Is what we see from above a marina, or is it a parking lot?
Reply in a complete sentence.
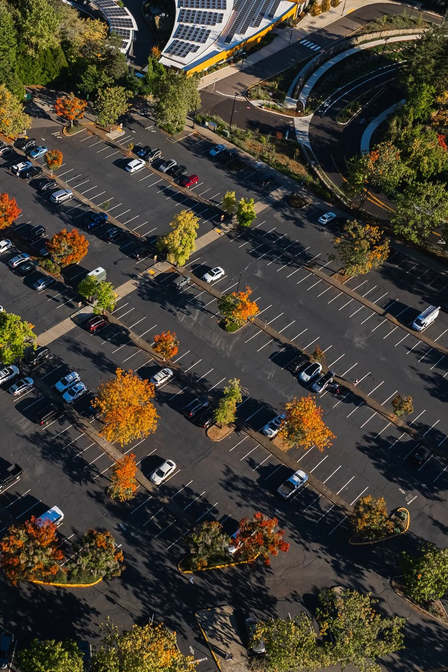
It's a parking lot.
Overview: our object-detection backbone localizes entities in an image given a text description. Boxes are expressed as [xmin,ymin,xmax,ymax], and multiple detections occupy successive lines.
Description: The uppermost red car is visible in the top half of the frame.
[181,175,201,189]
